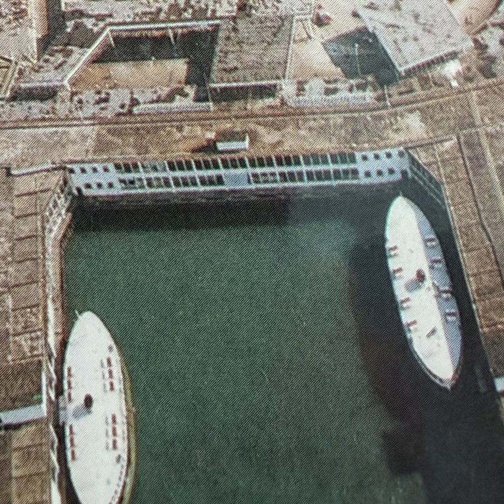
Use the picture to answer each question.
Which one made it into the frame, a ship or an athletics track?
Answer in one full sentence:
Of the two, only a ship appears.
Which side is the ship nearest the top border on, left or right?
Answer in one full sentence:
It is on the right.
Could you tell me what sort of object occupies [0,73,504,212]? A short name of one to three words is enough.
building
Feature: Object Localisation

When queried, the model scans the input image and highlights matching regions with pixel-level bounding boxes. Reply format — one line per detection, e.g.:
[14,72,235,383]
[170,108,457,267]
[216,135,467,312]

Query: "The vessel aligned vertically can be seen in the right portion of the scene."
[386,202,471,401]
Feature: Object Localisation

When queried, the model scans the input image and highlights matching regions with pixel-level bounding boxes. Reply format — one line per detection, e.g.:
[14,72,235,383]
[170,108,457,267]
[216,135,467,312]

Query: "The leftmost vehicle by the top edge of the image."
[314,10,333,31]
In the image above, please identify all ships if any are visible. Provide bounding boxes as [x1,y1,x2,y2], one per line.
[64,318,137,504]
[386,202,471,401]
